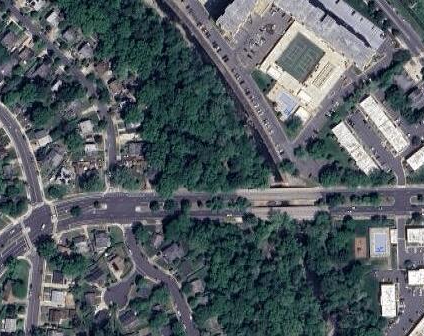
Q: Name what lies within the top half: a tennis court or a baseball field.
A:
tennis court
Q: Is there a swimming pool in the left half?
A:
No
